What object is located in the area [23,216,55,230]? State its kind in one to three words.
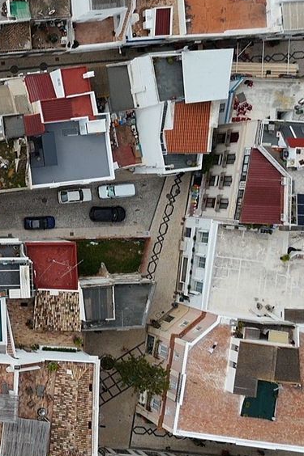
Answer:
car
